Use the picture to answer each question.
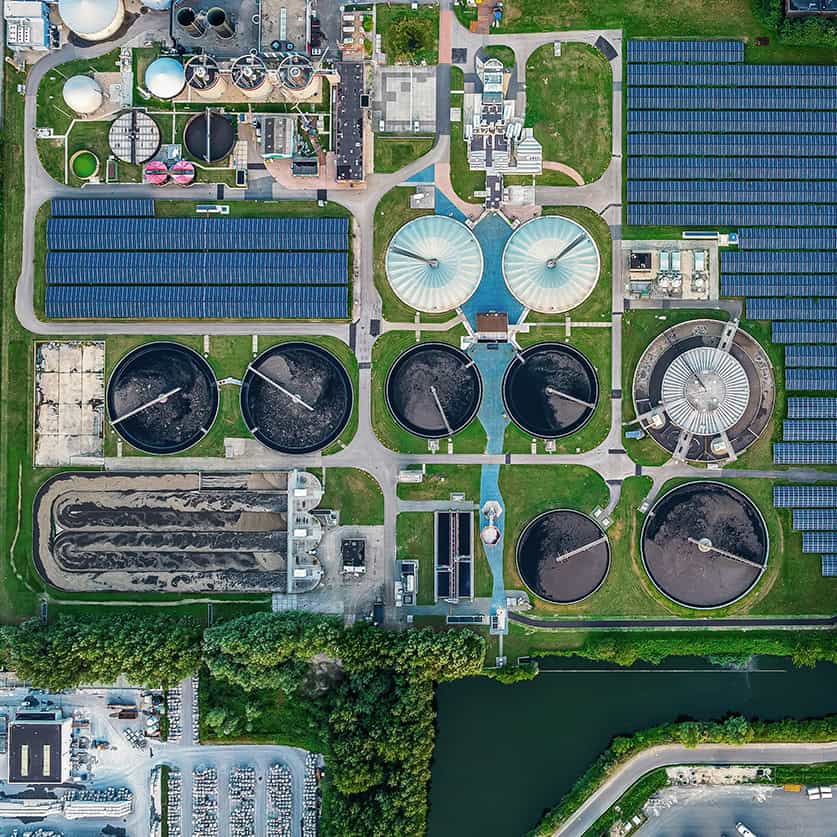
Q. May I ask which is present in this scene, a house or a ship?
house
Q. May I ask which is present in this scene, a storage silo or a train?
storage silo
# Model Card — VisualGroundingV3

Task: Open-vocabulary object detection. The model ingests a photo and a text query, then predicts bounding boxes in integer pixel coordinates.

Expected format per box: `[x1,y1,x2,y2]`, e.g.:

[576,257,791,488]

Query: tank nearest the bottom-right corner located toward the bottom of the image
[641,481,769,609]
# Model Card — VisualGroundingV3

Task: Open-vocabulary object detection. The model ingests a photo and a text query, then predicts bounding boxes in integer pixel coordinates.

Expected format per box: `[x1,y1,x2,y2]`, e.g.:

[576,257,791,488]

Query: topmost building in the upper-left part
[5,2,55,53]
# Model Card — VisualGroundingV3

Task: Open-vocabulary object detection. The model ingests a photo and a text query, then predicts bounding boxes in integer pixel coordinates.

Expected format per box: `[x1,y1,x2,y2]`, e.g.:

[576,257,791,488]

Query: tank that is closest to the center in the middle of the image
[386,342,482,439]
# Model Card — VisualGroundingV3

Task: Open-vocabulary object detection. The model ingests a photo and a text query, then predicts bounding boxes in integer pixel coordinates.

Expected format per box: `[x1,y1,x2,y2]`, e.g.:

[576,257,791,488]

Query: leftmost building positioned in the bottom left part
[8,702,79,783]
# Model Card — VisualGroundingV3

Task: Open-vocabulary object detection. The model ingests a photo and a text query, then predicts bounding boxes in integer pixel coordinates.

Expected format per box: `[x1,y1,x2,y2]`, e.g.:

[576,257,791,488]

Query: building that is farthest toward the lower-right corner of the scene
[490,606,508,634]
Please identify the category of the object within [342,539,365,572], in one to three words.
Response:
house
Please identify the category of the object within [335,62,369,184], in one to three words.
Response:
building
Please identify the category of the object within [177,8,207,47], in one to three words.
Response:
silo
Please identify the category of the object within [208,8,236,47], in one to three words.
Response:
silo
